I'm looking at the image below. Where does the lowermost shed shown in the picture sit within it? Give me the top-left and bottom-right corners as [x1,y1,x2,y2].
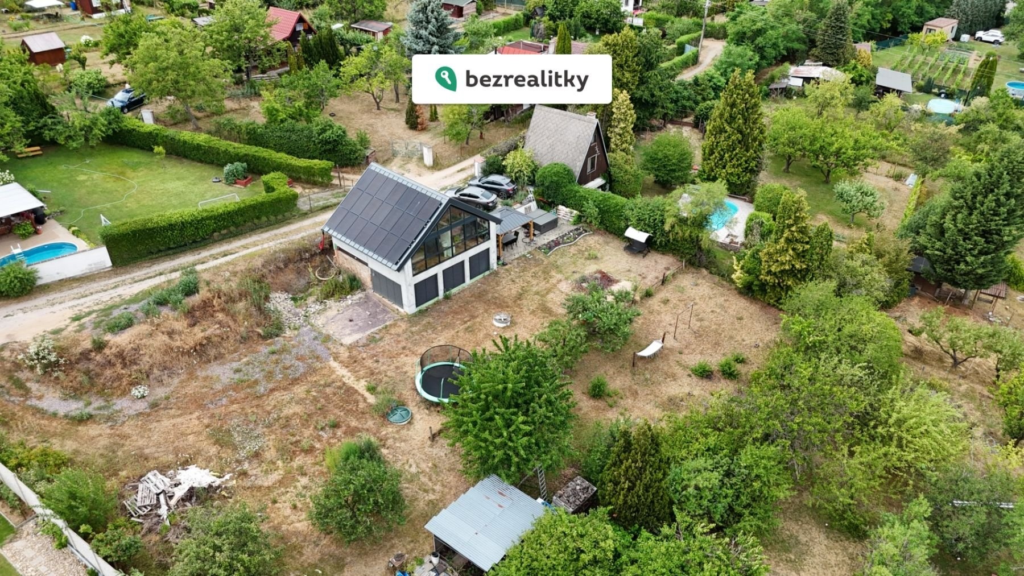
[424,477,544,576]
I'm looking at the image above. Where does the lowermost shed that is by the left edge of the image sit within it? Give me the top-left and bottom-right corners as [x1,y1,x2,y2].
[17,28,65,63]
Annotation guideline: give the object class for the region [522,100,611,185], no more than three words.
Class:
house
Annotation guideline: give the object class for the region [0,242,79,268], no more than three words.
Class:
swimming pool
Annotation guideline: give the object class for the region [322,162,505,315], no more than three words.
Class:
house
